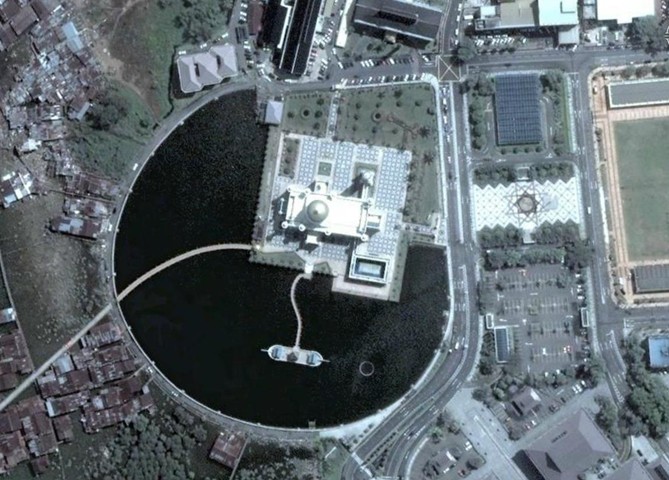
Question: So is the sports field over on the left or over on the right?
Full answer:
The sports field is on the right side of the image.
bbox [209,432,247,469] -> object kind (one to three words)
house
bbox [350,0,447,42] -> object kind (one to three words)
building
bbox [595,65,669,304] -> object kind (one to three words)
sports field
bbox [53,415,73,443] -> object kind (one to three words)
shed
